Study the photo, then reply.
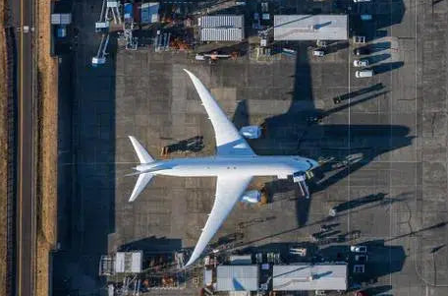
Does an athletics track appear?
No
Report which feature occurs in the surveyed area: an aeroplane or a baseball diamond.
aeroplane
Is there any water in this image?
No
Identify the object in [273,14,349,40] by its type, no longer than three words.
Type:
shed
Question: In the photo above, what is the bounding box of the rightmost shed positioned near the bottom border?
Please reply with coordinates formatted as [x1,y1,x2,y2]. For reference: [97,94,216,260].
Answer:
[272,263,348,290]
